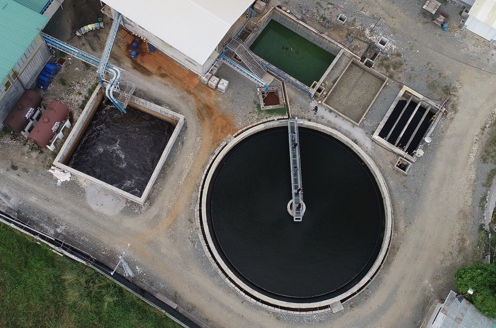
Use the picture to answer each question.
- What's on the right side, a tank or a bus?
tank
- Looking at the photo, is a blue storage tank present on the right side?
No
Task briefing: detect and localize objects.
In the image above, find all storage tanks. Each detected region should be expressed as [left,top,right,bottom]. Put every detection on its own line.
[3,85,45,134]
[29,95,73,147]
[372,87,447,162]
[197,114,393,314]
[55,81,188,206]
